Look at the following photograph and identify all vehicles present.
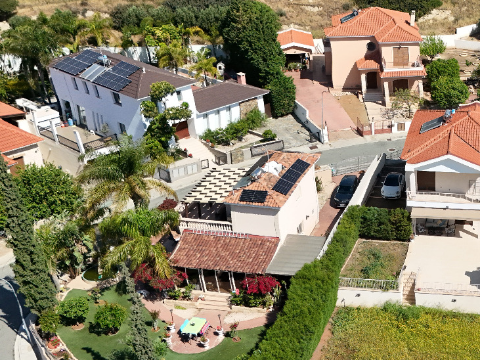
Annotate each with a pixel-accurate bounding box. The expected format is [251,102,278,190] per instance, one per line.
[365,169,402,207]
[329,169,360,204]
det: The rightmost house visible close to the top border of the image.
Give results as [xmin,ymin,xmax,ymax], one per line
[321,5,430,113]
